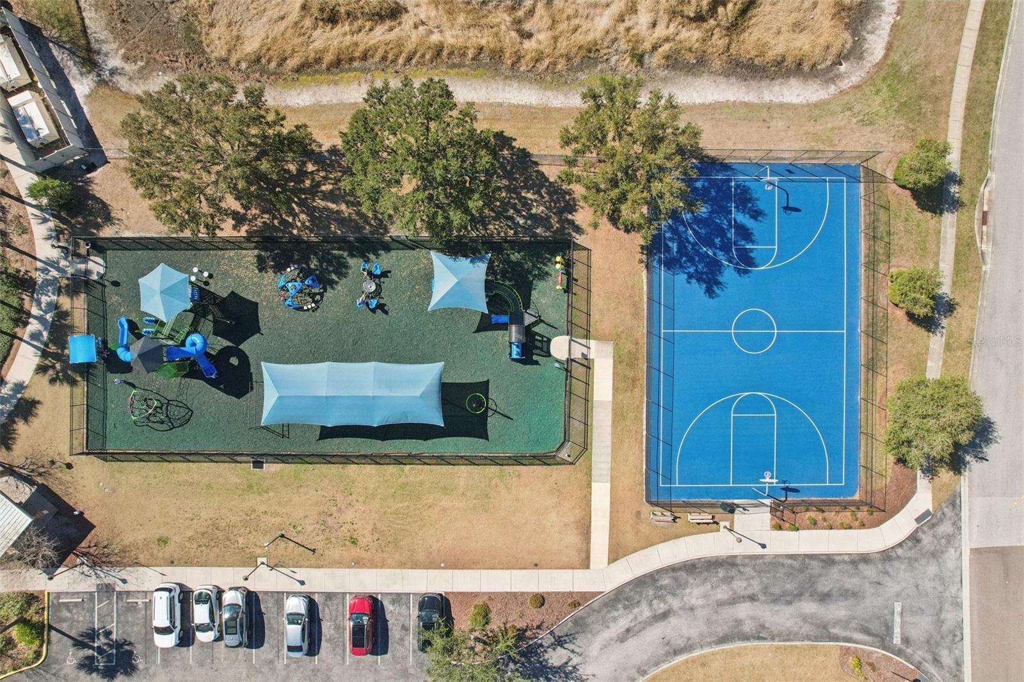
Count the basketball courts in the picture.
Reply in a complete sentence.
I count just 1 basketball court.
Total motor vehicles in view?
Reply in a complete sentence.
The count of motor vehicles comes to 6.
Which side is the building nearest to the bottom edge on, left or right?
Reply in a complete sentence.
The building nearest to the bottom edge appears in the left half of the scene.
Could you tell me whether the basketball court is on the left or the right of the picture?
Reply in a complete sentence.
It is on the right.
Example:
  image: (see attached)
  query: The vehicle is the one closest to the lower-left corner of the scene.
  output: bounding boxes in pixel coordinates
[148,583,181,645]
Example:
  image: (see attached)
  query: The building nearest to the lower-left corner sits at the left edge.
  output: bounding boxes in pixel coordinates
[0,489,54,556]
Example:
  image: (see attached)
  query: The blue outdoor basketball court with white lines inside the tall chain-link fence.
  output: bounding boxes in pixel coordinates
[645,162,862,503]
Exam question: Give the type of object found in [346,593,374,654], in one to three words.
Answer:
car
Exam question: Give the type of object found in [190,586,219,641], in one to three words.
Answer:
car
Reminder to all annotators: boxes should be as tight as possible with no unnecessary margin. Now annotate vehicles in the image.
[148,583,181,645]
[346,593,374,654]
[219,586,249,646]
[418,591,446,652]
[280,593,309,654]
[190,586,219,641]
